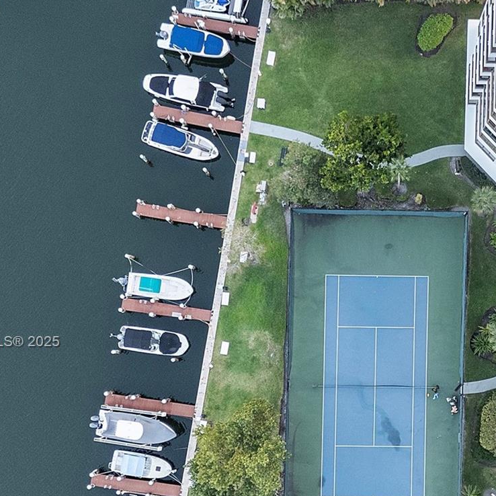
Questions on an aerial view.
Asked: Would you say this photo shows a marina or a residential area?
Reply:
marina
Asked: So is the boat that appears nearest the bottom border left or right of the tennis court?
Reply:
left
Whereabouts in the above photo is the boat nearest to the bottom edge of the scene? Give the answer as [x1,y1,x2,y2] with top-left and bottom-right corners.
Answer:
[109,448,175,478]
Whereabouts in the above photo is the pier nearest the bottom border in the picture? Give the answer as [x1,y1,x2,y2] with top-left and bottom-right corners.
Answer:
[90,474,182,496]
